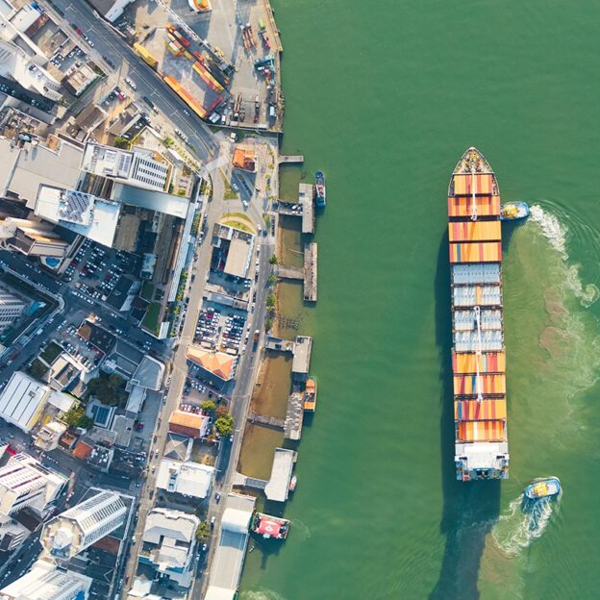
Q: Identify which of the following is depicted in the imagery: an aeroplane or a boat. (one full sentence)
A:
I can see a boat in this picture.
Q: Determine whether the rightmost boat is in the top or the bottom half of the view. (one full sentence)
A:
It is in the bottom half that the rightmost boat appears.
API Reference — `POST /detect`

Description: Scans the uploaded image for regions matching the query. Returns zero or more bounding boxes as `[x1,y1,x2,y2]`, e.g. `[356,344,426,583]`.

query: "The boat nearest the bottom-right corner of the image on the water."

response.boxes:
[524,477,563,500]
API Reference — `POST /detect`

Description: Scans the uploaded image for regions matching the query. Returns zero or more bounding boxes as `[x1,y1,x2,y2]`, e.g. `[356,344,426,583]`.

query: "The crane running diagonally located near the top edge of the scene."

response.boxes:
[159,0,242,83]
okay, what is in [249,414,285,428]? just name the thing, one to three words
pier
